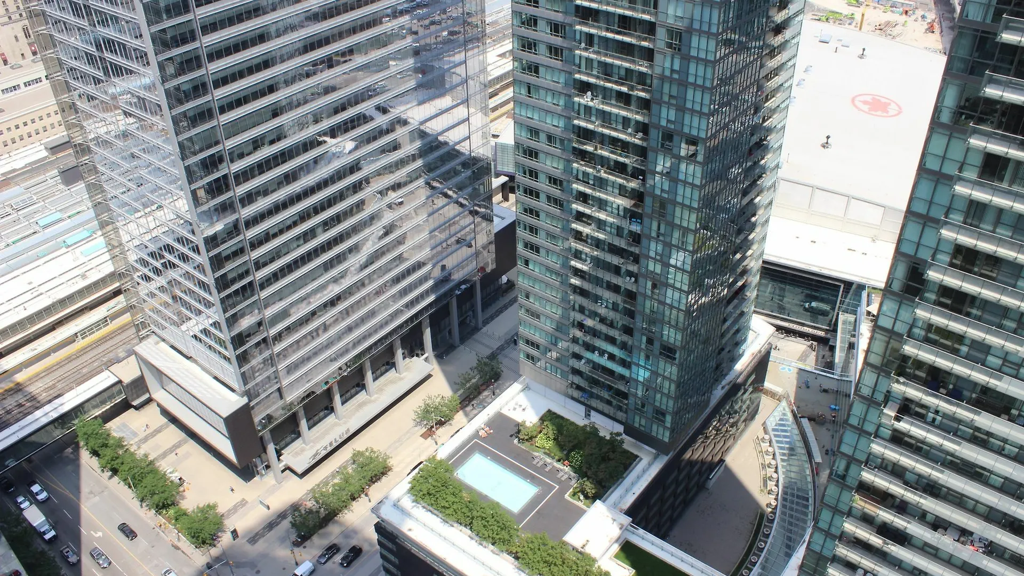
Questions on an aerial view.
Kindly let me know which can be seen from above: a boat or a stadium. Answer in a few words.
stadium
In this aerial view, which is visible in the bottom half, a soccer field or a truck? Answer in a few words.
truck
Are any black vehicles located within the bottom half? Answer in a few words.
Yes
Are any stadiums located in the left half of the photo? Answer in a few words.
No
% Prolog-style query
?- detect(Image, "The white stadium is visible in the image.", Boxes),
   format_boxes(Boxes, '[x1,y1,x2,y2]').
[753,18,943,340]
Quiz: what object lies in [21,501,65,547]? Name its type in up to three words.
truck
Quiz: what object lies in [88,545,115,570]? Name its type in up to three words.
car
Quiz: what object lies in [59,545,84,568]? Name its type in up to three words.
car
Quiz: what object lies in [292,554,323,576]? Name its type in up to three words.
vehicle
